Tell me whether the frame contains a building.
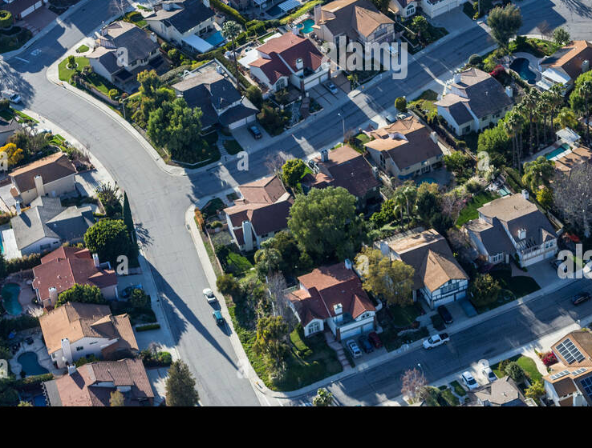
Yes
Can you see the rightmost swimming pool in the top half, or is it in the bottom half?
top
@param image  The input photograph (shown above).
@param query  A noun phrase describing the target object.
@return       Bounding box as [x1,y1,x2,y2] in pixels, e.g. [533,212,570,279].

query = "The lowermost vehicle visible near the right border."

[570,292,591,306]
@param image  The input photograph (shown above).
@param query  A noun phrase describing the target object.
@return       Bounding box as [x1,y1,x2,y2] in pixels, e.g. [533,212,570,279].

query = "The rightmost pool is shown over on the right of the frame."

[537,138,579,164]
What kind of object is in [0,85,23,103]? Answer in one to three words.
vehicle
